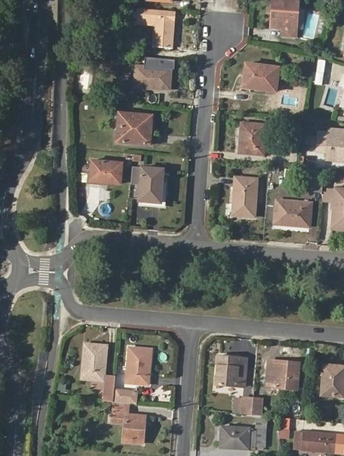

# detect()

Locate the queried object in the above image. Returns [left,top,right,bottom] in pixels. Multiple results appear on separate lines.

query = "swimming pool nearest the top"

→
[304,10,319,40]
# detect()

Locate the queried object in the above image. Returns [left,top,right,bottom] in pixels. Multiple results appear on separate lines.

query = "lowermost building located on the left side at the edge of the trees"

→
[108,404,147,445]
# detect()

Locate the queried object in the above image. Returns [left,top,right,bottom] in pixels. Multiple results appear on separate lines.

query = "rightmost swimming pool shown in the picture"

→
[323,84,340,110]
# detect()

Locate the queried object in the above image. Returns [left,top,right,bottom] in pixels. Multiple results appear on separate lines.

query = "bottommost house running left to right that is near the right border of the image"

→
[292,430,344,456]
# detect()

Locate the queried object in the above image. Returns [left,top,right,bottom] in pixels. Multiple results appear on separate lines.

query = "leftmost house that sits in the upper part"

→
[88,159,123,186]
